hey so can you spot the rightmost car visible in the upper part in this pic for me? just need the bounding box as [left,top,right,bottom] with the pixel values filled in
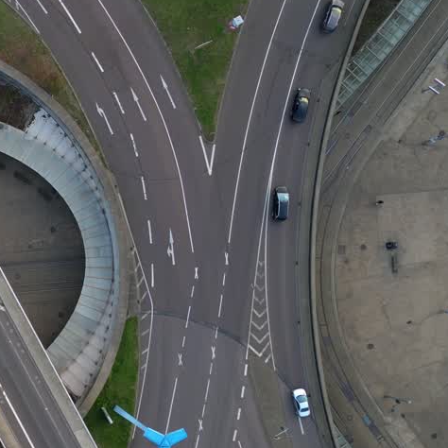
[319,0,343,32]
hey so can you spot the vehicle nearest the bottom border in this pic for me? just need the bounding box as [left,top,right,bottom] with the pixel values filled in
[290,388,311,418]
